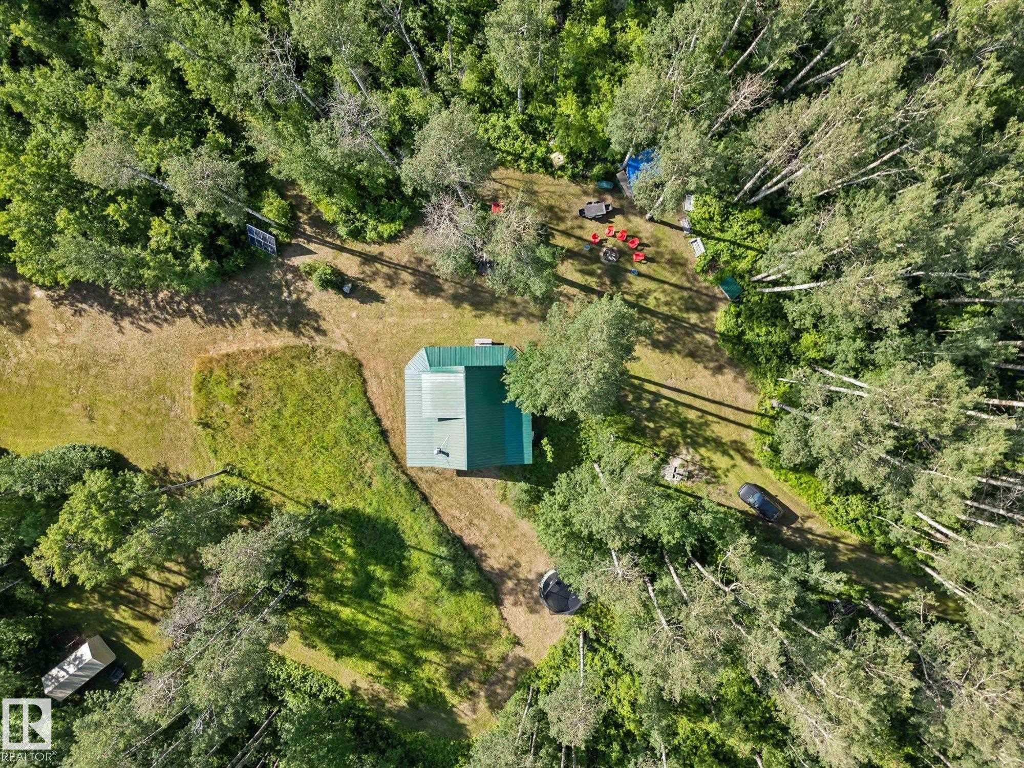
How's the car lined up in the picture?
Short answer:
on a diagonal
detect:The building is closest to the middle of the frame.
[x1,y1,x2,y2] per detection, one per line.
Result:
[405,346,532,470]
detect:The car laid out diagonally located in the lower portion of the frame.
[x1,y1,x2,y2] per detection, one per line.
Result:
[738,484,788,527]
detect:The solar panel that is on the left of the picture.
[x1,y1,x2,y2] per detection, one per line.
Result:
[246,224,279,256]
